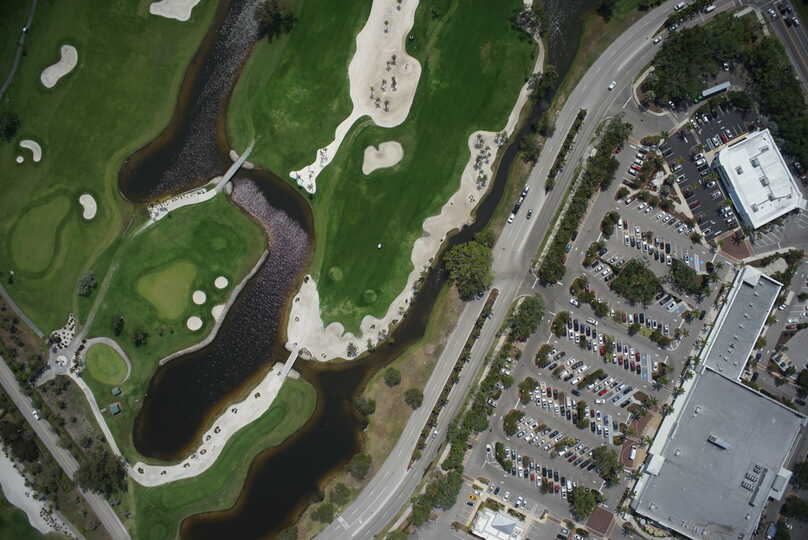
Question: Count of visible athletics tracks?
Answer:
none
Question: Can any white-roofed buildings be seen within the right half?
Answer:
Yes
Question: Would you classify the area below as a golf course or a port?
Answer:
golf course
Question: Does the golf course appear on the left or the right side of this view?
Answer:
left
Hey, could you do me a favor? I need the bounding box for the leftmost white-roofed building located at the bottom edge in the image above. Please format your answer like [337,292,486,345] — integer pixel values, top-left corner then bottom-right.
[466,503,526,540]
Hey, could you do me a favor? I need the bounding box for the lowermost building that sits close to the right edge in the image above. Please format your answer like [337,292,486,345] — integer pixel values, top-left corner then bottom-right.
[630,365,806,540]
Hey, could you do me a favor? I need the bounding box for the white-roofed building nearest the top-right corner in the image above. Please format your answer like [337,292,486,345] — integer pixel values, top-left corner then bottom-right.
[709,129,807,230]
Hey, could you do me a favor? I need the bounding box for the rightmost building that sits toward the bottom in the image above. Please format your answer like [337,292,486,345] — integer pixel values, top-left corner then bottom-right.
[770,325,808,371]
